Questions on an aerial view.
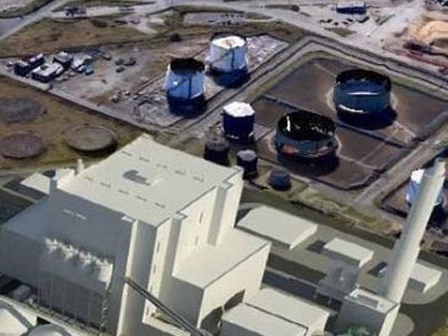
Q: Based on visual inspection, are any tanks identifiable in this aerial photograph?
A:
Yes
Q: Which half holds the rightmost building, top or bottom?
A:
bottom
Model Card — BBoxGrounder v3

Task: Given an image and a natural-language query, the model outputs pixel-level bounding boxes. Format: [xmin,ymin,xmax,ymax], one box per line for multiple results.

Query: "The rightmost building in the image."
[409,267,441,301]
